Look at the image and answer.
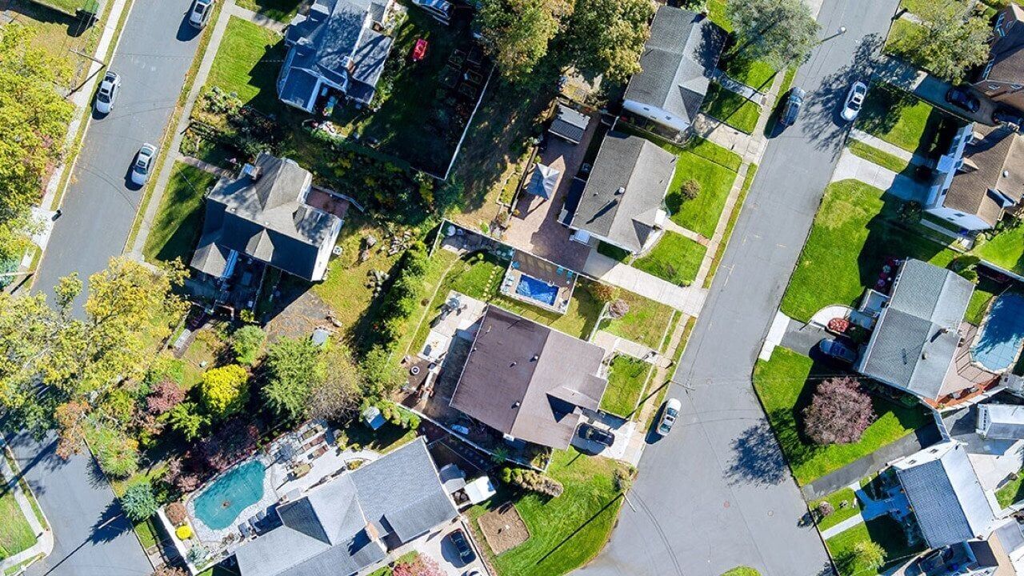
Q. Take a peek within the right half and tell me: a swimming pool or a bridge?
swimming pool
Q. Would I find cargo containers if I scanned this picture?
No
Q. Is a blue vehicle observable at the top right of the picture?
Yes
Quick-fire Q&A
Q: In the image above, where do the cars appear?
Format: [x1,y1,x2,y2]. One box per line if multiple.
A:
[988,106,1023,125]
[817,335,859,366]
[943,83,986,116]
[777,83,807,129]
[131,141,158,187]
[654,395,682,440]
[96,69,122,115]
[447,527,476,568]
[575,421,616,448]
[466,563,488,576]
[188,0,217,32]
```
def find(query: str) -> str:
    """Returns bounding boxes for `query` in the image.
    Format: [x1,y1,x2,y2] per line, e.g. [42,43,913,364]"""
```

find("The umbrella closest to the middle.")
[447,297,461,311]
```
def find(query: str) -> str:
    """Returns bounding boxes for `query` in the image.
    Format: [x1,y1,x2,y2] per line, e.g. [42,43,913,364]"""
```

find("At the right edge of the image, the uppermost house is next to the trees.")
[964,5,1024,111]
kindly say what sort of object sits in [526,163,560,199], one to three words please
gazebo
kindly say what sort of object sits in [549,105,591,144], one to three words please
shed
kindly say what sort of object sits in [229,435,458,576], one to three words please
house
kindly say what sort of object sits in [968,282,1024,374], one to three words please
swimming pool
